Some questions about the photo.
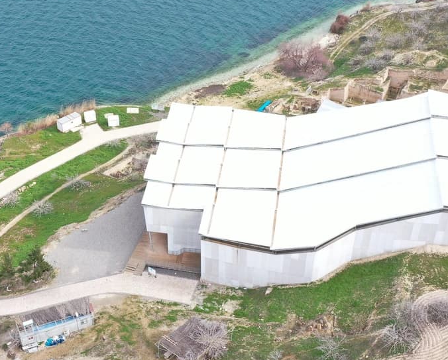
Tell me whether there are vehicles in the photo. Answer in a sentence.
No, there appears to be no vehicle in this shot.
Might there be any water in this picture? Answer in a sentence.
Yes, water can be seen from above here.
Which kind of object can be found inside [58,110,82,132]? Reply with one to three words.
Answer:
building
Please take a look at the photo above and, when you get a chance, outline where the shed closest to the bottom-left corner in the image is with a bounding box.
[10,293,93,352]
